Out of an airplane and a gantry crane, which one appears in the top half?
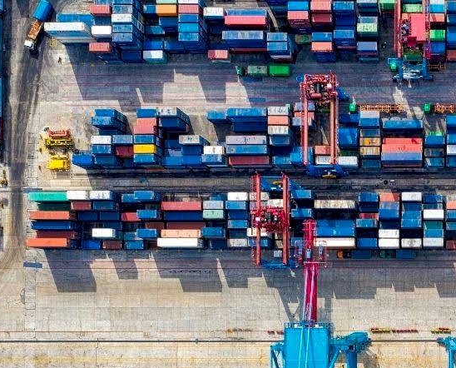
gantry crane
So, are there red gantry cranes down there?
Yes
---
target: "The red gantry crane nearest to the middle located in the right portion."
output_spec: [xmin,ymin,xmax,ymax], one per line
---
[251,174,310,267]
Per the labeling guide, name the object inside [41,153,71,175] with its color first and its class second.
yellow work vehicle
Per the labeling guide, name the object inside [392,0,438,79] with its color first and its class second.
red container crane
